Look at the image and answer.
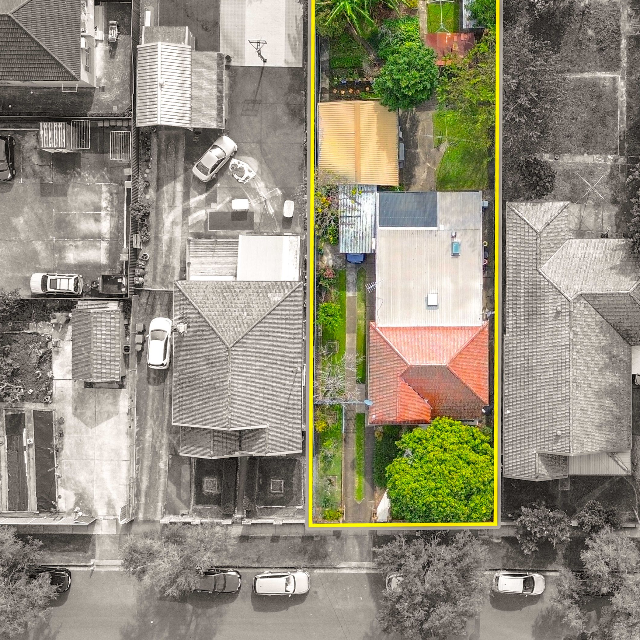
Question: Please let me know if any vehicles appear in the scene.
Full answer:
Yes, there's a vehicle down there.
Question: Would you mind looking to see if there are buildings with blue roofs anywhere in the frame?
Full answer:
No, the scene contains no building with a blue roof.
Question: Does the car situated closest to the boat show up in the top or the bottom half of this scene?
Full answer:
The car situated closest to the boat sits in the top half of the picture.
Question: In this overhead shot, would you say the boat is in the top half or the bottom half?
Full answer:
The top half of the photo is where the boat is.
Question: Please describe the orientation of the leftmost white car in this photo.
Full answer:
The leftmost white car is oriented horizontally.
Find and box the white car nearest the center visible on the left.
[145,316,172,370]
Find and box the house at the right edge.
[502,200,640,480]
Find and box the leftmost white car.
[27,270,87,298]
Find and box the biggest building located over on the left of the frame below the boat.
[171,280,303,459]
